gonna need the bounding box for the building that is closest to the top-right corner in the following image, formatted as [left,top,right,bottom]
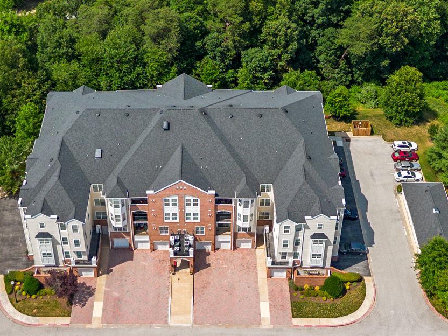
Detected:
[350,116,373,135]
